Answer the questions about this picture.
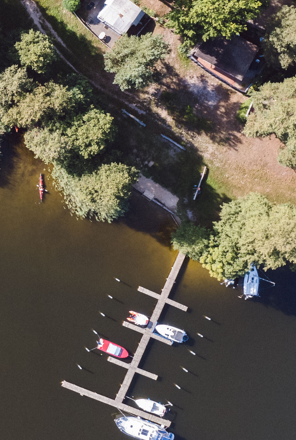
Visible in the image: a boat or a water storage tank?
boat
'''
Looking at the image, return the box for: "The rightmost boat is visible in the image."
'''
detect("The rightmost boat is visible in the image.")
[243,265,271,301]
